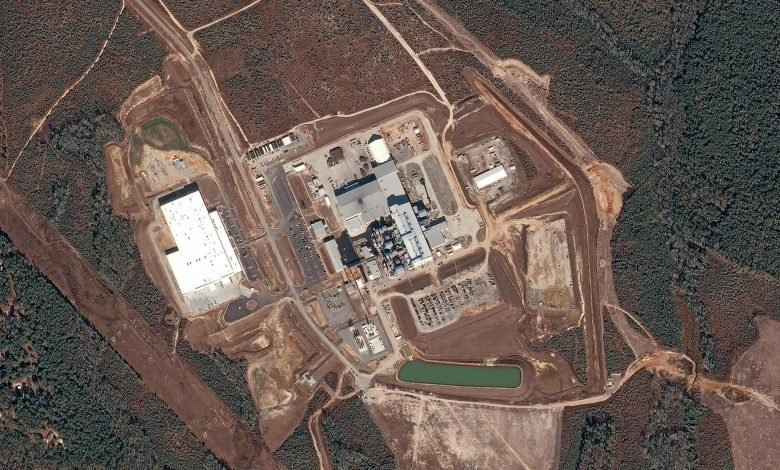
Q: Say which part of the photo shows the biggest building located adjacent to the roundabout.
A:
left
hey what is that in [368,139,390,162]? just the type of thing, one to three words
shed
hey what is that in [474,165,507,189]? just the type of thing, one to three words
shed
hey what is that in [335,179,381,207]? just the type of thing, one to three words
building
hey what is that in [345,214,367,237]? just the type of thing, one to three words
building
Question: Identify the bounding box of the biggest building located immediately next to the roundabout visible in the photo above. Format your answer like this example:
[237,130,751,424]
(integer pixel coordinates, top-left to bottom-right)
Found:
[161,190,233,294]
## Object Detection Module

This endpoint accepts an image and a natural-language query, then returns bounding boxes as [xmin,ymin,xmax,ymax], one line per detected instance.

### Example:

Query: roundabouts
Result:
[225,289,289,323]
